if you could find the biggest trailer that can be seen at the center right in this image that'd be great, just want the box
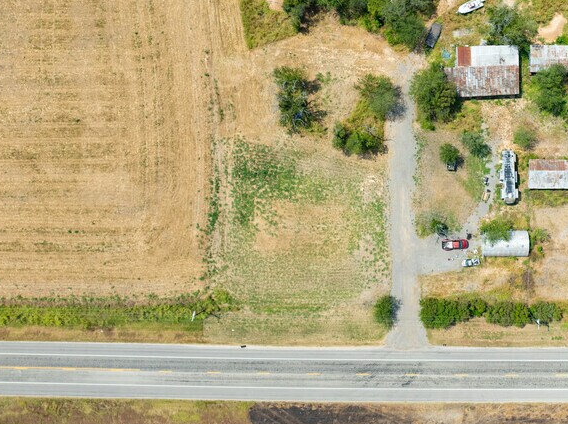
[499,151,518,203]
